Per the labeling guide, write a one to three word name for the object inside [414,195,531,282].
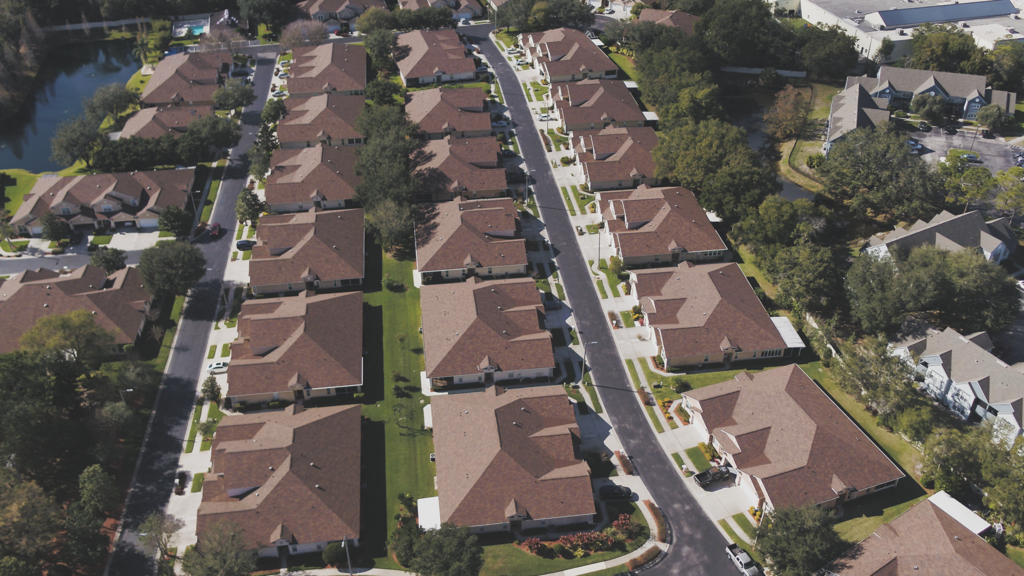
house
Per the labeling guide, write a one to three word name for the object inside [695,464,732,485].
truck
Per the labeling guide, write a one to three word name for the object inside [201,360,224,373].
vehicle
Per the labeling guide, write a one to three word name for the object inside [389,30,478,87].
house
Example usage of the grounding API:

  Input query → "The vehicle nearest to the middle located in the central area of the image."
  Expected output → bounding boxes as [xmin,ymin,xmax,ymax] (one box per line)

[545,297,565,309]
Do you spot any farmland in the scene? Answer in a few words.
No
